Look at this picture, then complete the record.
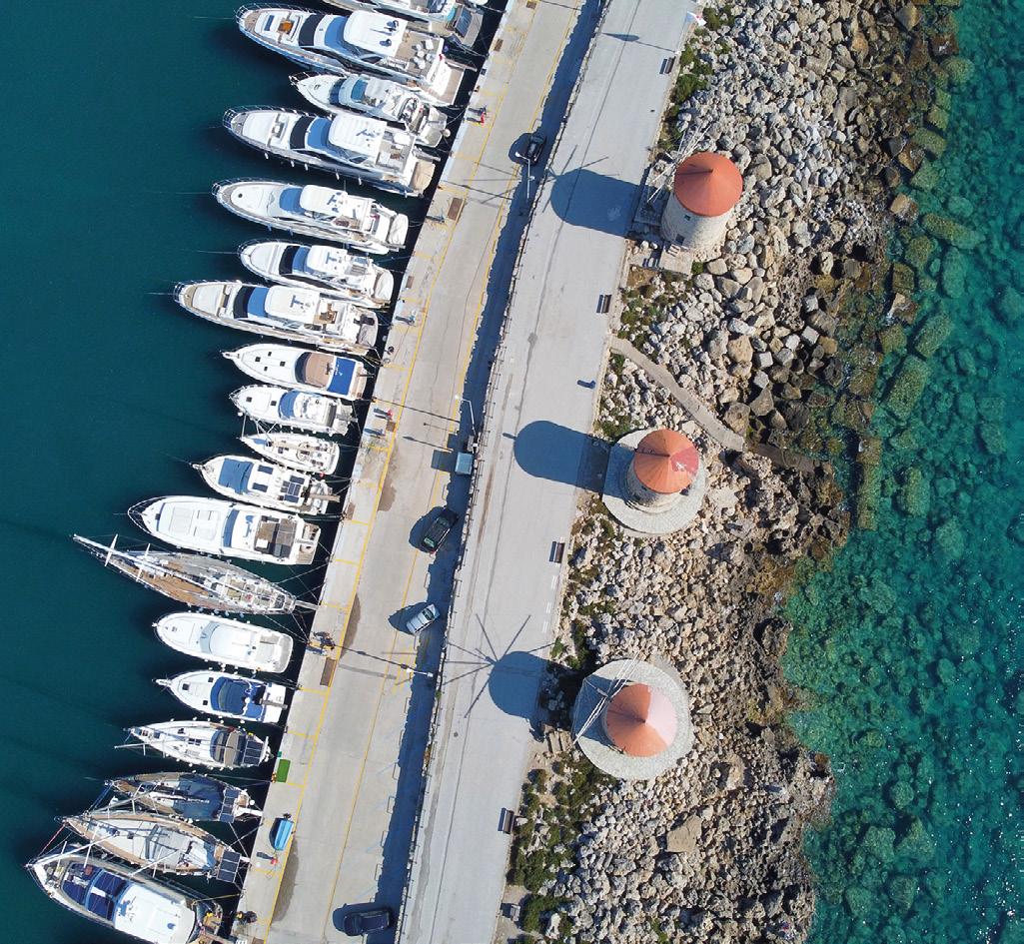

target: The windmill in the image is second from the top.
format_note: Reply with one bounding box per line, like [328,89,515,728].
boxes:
[617,430,700,517]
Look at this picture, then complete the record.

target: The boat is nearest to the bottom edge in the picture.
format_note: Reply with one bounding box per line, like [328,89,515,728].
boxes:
[18,860,227,944]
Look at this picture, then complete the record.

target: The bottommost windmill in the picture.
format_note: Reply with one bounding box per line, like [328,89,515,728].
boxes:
[577,649,679,759]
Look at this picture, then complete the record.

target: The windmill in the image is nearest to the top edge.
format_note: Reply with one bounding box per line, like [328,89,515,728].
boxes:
[650,120,744,253]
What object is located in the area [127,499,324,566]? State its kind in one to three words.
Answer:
boat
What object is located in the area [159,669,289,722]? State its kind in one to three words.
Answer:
boat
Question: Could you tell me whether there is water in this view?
Yes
